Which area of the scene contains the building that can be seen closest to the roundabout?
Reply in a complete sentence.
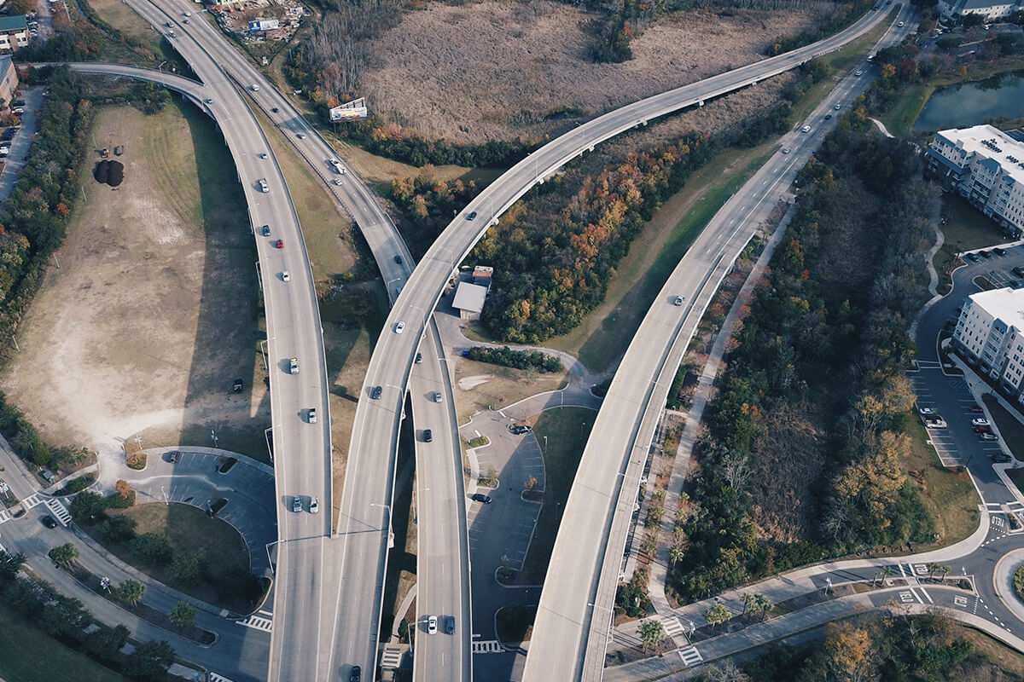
Look in the right portion of the view to spot the building that can be seen closest to the roundabout.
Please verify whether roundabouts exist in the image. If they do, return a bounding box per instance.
[993,548,1024,622]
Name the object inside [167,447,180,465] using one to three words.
vehicle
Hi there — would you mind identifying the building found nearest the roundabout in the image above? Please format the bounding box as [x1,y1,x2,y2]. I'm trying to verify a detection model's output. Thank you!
[946,286,1024,420]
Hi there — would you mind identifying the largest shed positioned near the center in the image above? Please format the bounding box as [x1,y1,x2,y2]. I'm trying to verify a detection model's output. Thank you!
[453,283,487,323]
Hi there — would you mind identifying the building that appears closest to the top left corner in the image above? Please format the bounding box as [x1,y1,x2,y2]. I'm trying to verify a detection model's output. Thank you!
[0,12,34,48]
